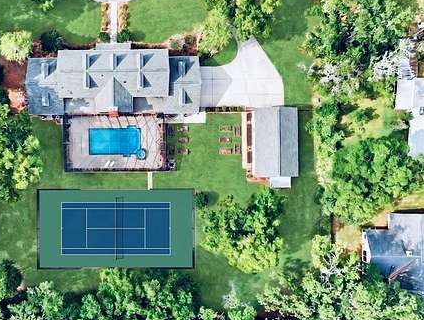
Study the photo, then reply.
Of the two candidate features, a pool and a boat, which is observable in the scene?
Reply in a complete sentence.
Visible in the photo is a pool.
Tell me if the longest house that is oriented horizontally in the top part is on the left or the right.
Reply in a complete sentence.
The longest house that is oriented horizontally in the top part appears in the left half of the scene.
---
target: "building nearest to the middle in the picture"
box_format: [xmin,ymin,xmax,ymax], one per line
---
[249,105,298,188]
